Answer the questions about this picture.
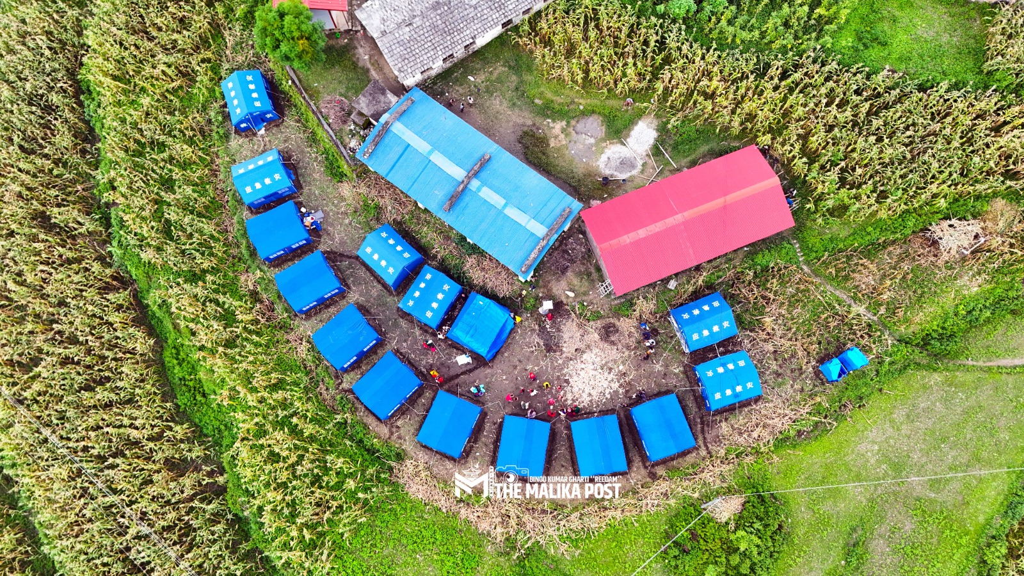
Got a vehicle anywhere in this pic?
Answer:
No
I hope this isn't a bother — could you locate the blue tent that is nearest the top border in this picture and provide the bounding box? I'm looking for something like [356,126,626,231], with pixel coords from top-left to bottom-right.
[221,70,289,145]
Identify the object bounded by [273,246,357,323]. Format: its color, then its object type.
blue tent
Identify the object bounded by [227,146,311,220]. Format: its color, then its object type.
blue tent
